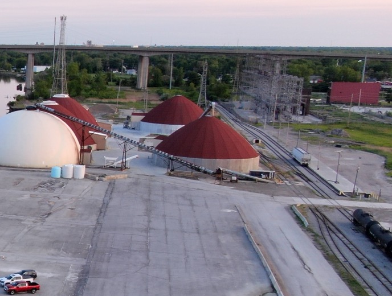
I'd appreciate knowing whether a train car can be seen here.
Yes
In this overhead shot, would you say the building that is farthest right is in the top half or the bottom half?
top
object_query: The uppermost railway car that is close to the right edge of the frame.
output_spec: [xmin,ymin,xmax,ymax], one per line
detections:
[355,209,386,239]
